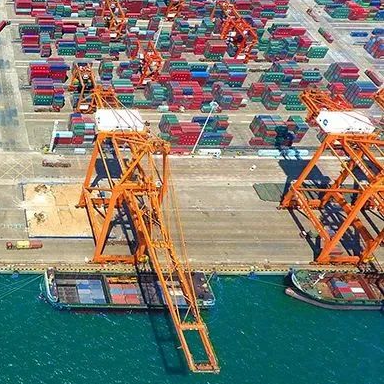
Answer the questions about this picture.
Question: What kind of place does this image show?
port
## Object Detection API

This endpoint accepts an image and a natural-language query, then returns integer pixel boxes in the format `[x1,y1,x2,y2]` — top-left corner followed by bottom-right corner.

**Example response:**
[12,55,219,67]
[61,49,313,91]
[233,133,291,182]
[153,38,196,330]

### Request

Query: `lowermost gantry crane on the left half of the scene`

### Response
[72,87,227,373]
